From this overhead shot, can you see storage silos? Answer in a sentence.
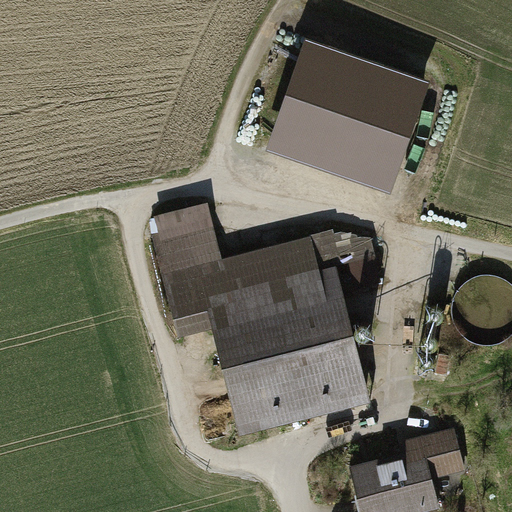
Yes, there's a storage silo down there.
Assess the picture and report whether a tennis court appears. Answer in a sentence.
No, the scene contains no tennis court.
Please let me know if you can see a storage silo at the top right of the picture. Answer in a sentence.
No, no storage silo is visible at the top right of the picture.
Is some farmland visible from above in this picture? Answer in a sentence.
Yes, farmland can be seen from above here.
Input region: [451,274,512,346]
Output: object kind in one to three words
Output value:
storage tank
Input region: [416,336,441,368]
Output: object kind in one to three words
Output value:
silo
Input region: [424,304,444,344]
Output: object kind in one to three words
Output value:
silo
